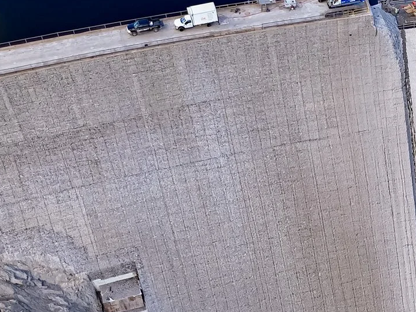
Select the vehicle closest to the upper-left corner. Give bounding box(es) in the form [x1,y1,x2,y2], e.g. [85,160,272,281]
[126,15,162,31]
